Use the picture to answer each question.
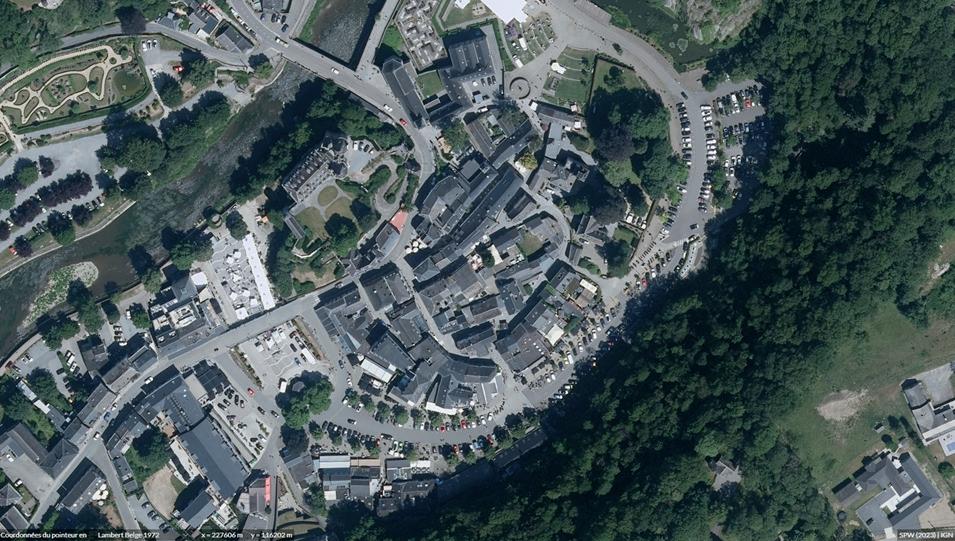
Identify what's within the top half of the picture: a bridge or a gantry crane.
bridge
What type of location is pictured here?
residential area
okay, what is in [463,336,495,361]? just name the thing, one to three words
house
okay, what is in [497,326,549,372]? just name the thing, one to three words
building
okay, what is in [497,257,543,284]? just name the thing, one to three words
building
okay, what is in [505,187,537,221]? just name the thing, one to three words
house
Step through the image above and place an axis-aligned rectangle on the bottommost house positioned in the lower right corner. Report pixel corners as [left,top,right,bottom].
[888,495,943,531]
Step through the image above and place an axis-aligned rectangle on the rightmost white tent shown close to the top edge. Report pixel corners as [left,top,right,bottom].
[481,0,530,24]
